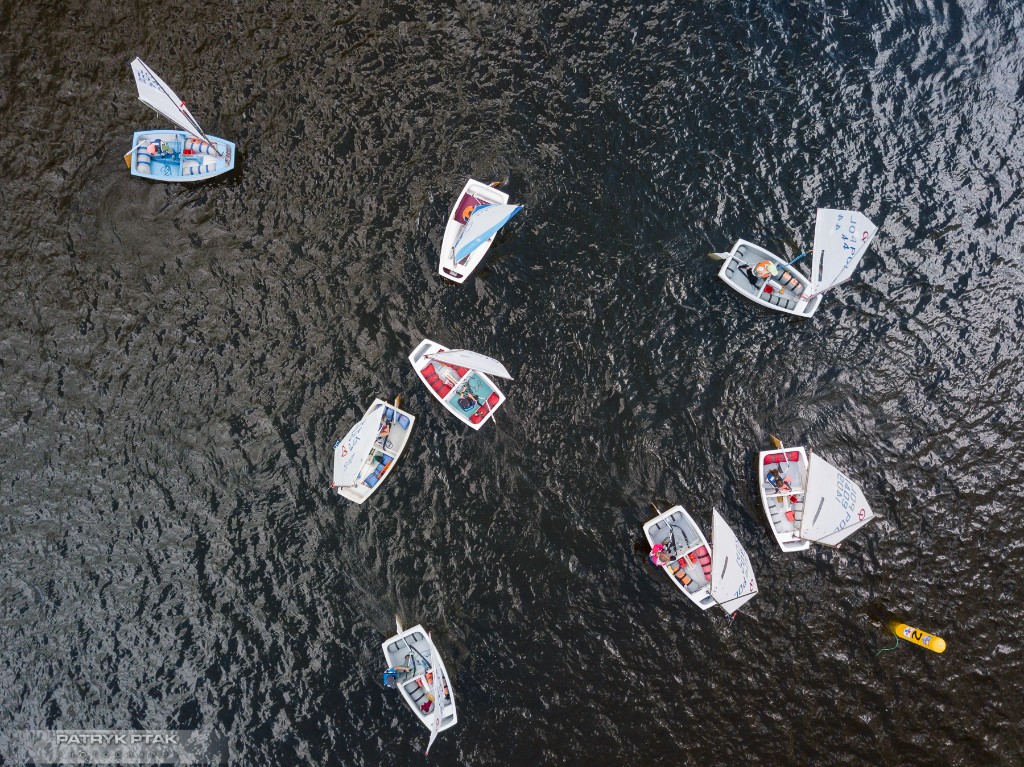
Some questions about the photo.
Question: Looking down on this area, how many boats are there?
8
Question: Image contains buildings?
No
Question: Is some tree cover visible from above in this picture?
No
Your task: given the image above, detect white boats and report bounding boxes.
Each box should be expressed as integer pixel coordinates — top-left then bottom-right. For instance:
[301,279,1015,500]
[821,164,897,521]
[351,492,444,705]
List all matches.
[644,502,759,622]
[383,617,456,757]
[711,204,879,318]
[408,339,518,430]
[438,179,527,284]
[759,436,875,551]
[330,395,414,503]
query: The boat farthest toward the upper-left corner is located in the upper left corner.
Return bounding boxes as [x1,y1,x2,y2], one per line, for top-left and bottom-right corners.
[124,56,235,181]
